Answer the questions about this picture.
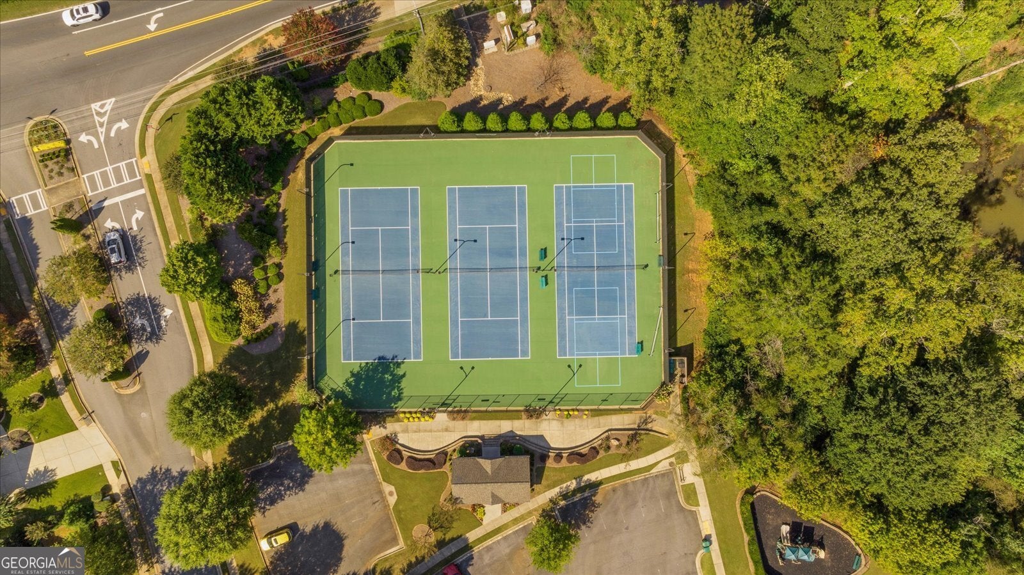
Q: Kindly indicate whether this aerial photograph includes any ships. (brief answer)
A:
No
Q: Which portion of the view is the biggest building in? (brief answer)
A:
bottom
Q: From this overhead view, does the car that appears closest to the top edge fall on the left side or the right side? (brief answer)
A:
left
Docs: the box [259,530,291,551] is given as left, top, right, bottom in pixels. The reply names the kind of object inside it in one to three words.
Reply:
car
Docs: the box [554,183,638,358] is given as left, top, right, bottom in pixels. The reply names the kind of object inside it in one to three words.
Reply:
tennis court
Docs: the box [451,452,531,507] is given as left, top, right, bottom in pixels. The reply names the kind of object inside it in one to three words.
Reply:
building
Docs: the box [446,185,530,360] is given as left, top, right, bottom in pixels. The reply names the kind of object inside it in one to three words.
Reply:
tennis court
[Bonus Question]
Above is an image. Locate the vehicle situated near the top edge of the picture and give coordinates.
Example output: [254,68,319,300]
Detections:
[61,1,98,23]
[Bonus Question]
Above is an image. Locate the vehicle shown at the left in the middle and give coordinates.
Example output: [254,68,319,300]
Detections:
[102,230,125,265]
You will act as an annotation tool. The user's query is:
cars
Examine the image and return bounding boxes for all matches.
[259,530,291,551]
[444,564,459,575]
[102,230,125,265]
[61,1,98,23]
